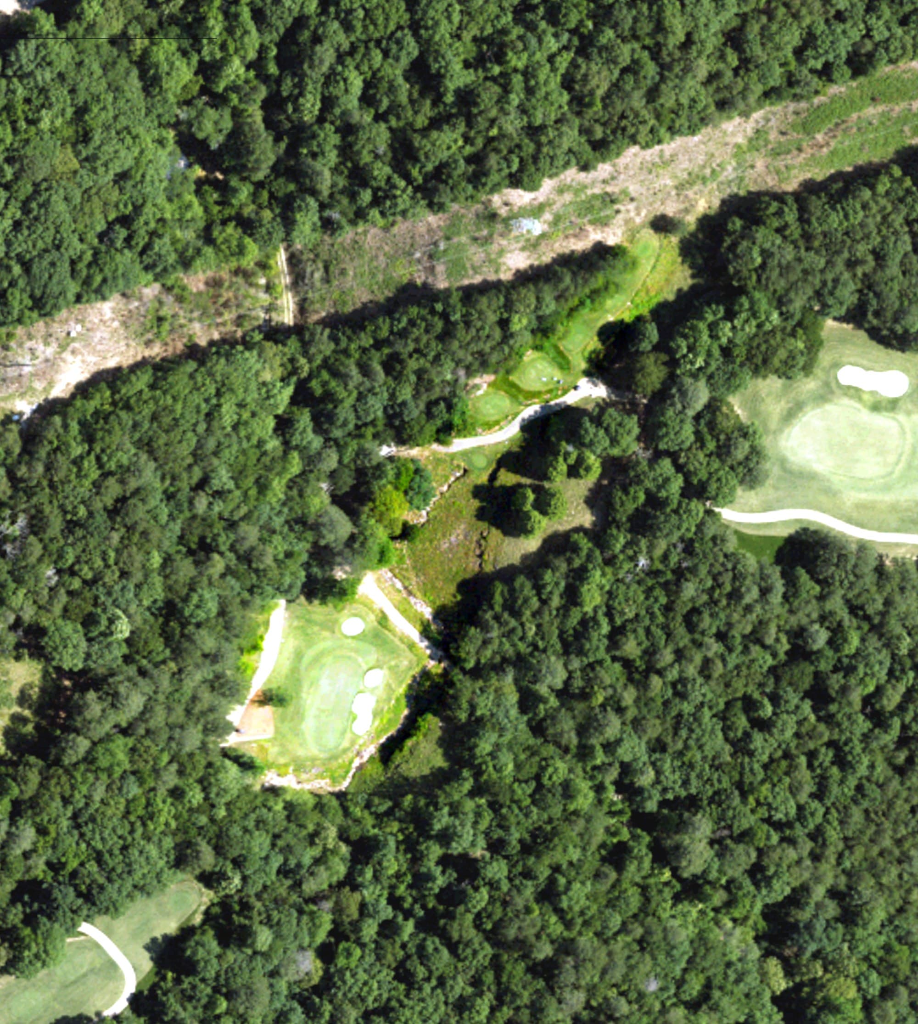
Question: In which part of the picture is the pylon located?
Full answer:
Look in the top portion of the view to spot the pylon.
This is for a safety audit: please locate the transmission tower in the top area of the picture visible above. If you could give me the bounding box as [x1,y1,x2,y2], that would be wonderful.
[508,217,541,240]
